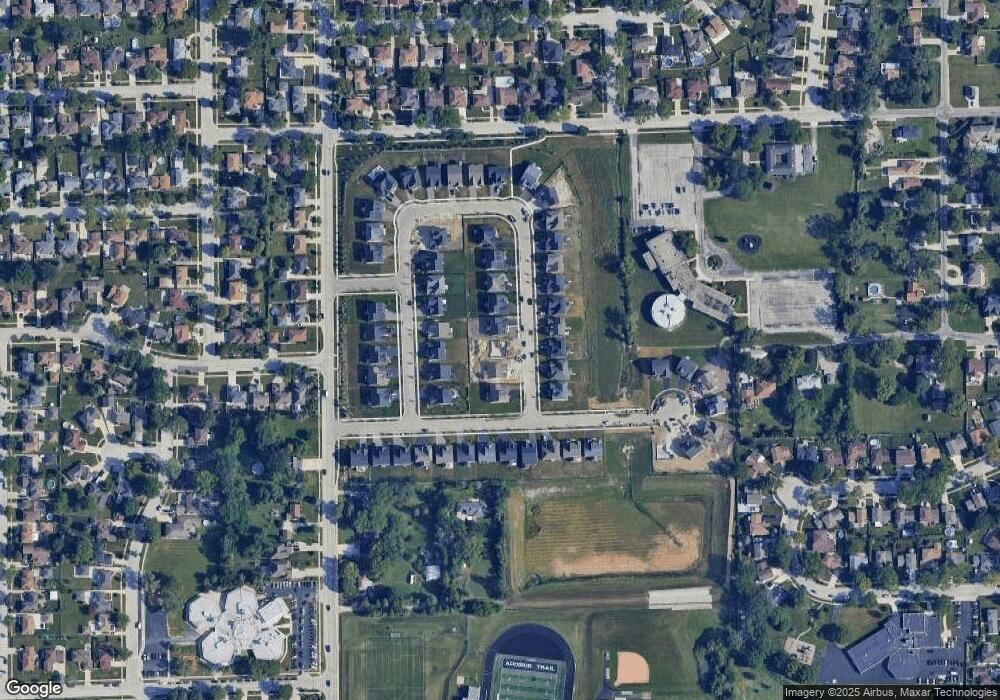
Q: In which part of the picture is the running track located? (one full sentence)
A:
Look in the bottom portion of the view to spot the running track.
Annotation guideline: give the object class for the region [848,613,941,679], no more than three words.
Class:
building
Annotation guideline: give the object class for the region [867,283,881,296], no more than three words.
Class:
swimming pool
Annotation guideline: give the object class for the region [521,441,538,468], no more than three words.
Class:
house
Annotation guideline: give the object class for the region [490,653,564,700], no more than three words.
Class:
sports field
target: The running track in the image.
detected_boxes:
[479,620,576,700]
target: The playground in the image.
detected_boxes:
[785,638,814,665]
